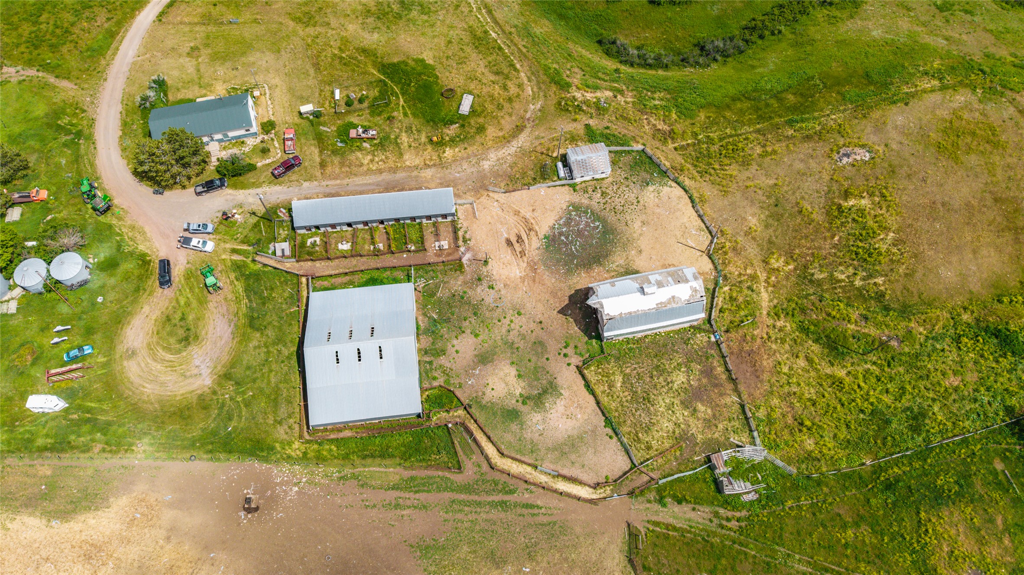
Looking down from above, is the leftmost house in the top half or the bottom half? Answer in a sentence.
The top half of the photo is where the leftmost house is.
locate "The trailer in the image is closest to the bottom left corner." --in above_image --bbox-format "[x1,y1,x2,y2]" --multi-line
[23,395,74,415]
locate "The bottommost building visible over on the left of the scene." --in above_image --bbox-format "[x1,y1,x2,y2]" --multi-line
[305,281,426,431]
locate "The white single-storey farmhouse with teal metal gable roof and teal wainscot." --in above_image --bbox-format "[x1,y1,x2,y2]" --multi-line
[148,91,257,149]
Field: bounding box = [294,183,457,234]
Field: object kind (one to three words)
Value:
building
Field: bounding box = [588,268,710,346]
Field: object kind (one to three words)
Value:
barn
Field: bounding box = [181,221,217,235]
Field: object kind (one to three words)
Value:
car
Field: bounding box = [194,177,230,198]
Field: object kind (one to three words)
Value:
truck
